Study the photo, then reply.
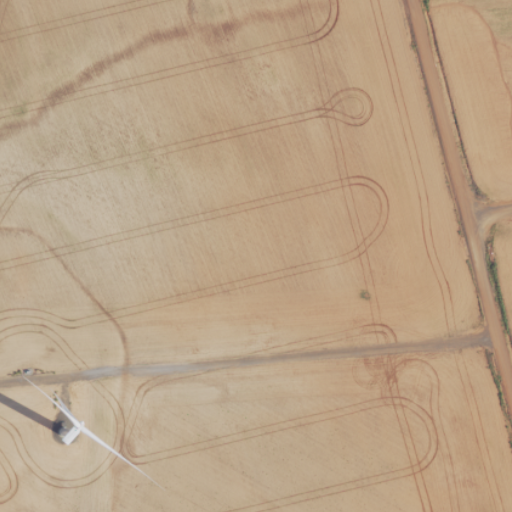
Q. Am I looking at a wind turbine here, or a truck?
wind turbine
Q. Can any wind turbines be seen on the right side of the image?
No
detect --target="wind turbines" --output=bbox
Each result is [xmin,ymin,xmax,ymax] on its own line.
[26,380,166,491]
